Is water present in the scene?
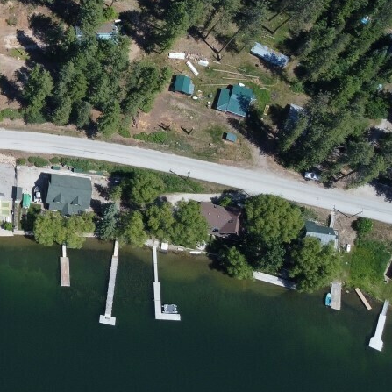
Yes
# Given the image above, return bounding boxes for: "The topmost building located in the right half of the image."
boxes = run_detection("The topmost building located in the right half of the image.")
[248,42,289,72]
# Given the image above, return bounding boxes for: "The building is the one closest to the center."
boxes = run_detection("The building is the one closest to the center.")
[201,204,239,236]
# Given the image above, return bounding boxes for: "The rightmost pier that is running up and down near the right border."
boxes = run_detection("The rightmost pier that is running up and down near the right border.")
[369,300,388,354]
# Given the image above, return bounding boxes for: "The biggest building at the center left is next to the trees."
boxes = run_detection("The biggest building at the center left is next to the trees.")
[47,175,94,216]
